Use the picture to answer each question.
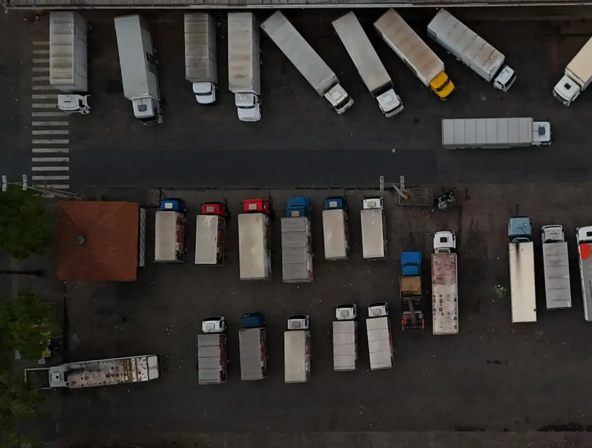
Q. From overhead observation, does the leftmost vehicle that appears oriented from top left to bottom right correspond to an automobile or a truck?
truck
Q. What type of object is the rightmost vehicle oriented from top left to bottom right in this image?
truck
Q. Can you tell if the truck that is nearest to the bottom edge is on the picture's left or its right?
left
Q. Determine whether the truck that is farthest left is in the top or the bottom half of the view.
top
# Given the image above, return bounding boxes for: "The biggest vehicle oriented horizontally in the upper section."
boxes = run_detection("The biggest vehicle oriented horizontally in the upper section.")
[442,117,554,151]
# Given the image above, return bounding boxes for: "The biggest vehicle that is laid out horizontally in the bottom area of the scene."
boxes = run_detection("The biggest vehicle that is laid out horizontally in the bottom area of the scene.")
[50,354,168,390]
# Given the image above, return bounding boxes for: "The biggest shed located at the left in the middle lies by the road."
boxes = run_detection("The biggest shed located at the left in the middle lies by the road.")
[57,200,155,281]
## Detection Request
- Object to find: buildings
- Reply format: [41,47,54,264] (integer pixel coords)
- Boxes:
[57,200,155,281]
[3,0,592,14]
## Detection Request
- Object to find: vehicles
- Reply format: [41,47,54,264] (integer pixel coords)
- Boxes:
[374,9,458,103]
[184,13,220,108]
[284,313,312,383]
[539,226,572,309]
[428,9,517,93]
[361,195,388,260]
[573,225,592,322]
[430,229,460,335]
[321,194,352,260]
[442,117,554,151]
[195,200,226,266]
[114,14,166,128]
[332,302,361,371]
[398,251,424,332]
[262,10,356,115]
[50,11,92,117]
[281,196,315,282]
[227,12,267,126]
[550,37,592,110]
[155,196,187,262]
[331,11,406,121]
[365,301,395,370]
[198,315,230,384]
[505,214,536,323]
[50,354,168,390]
[238,311,270,380]
[237,195,273,280]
